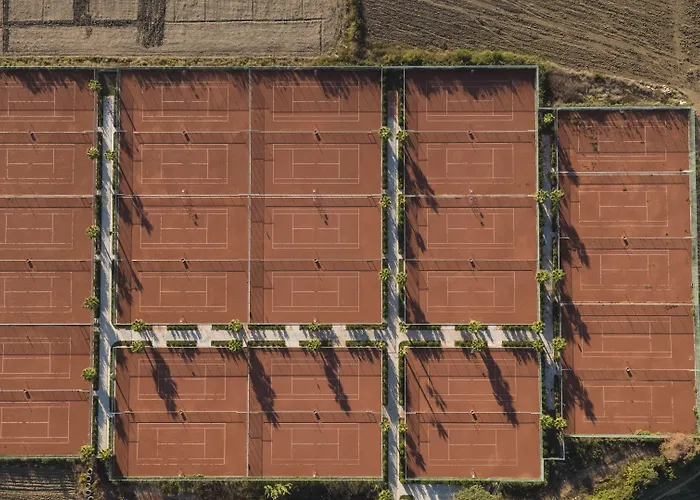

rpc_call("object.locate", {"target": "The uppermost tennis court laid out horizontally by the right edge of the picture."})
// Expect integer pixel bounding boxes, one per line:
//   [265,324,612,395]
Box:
[558,111,690,172]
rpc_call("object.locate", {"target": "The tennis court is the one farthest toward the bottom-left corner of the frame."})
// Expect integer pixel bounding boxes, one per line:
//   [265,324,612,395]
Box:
[0,391,93,455]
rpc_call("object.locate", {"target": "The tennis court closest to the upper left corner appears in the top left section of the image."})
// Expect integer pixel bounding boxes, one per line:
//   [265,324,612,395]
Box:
[0,71,96,131]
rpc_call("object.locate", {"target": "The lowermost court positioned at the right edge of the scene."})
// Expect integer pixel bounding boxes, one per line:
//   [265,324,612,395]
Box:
[563,370,697,433]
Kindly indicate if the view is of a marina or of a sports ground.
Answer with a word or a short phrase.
sports ground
